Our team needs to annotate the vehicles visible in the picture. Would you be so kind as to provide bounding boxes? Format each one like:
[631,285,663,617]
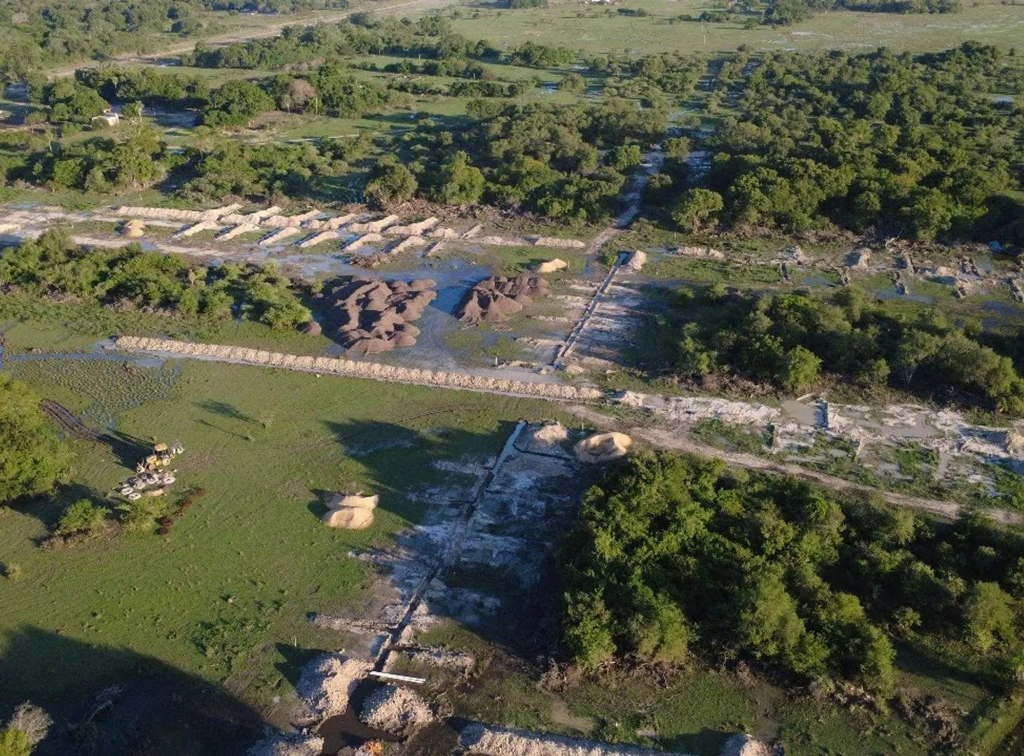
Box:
[135,444,184,474]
